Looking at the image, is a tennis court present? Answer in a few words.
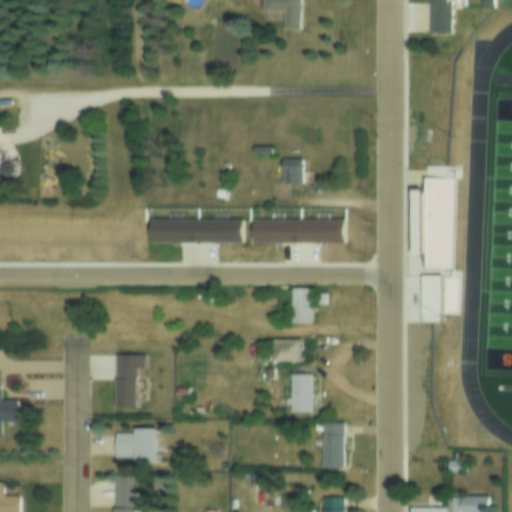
No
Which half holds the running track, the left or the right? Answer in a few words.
right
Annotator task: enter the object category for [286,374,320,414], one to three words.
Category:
house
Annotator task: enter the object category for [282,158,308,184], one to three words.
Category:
house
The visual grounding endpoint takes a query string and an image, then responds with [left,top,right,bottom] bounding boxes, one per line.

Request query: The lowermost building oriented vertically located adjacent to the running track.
[421,274,444,323]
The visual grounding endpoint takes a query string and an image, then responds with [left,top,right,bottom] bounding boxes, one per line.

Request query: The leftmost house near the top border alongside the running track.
[430,0,469,33]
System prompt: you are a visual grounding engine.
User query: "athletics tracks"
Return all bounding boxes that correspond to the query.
[462,24,512,456]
